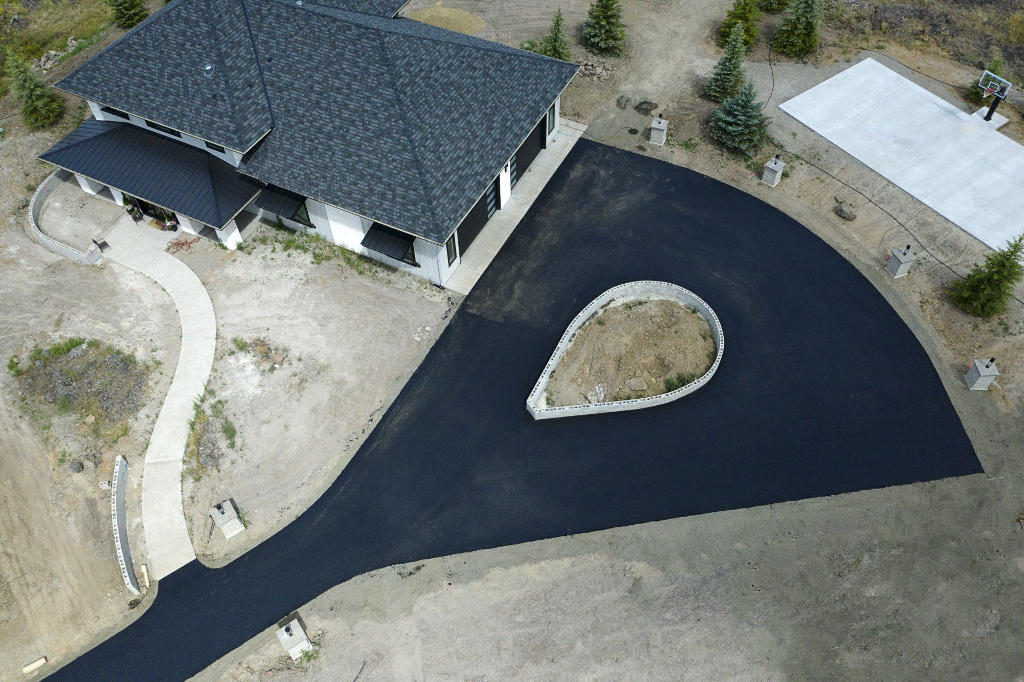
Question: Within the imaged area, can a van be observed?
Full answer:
No, there appears to be no van in this shot.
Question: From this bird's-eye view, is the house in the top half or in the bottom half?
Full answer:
It is in the top half that the house appears.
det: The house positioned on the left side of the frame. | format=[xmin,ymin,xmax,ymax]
[36,0,583,287]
